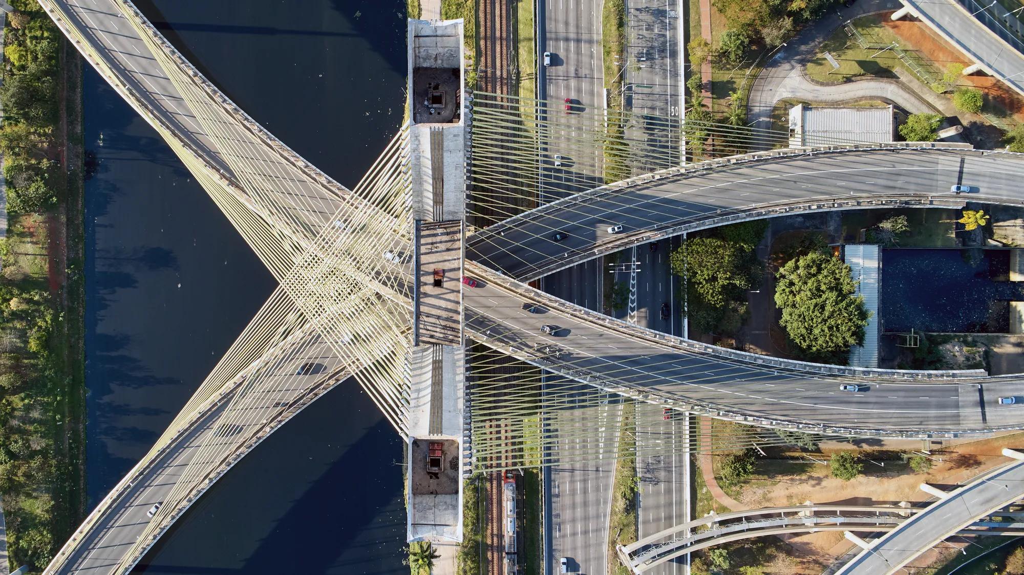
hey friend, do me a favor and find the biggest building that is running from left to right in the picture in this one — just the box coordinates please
[789,102,896,147]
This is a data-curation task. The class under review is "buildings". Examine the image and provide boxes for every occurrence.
[789,102,896,147]
[837,244,882,368]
